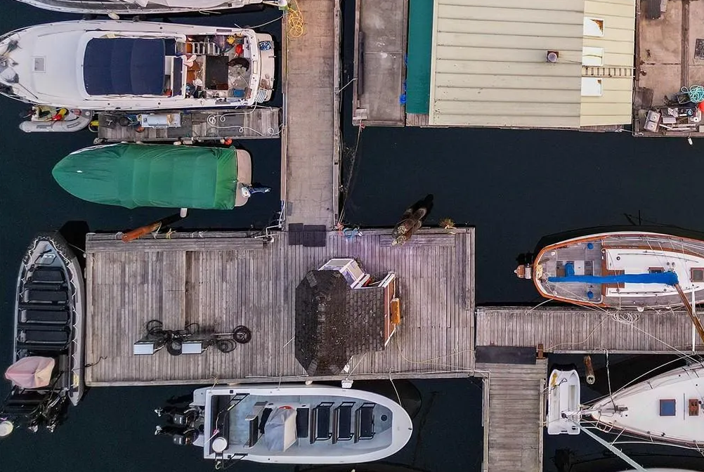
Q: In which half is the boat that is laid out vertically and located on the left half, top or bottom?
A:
bottom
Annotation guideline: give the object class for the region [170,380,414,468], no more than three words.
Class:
boat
